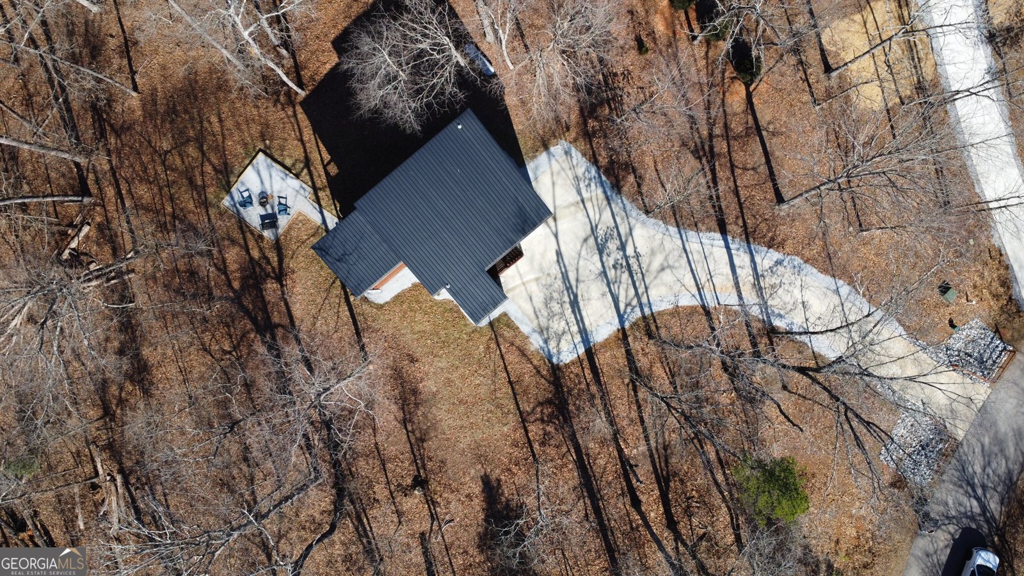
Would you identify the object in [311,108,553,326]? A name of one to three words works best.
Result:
house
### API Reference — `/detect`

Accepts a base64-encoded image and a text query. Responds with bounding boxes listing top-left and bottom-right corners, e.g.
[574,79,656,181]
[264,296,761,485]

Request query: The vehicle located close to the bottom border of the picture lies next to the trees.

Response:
[958,543,1007,576]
